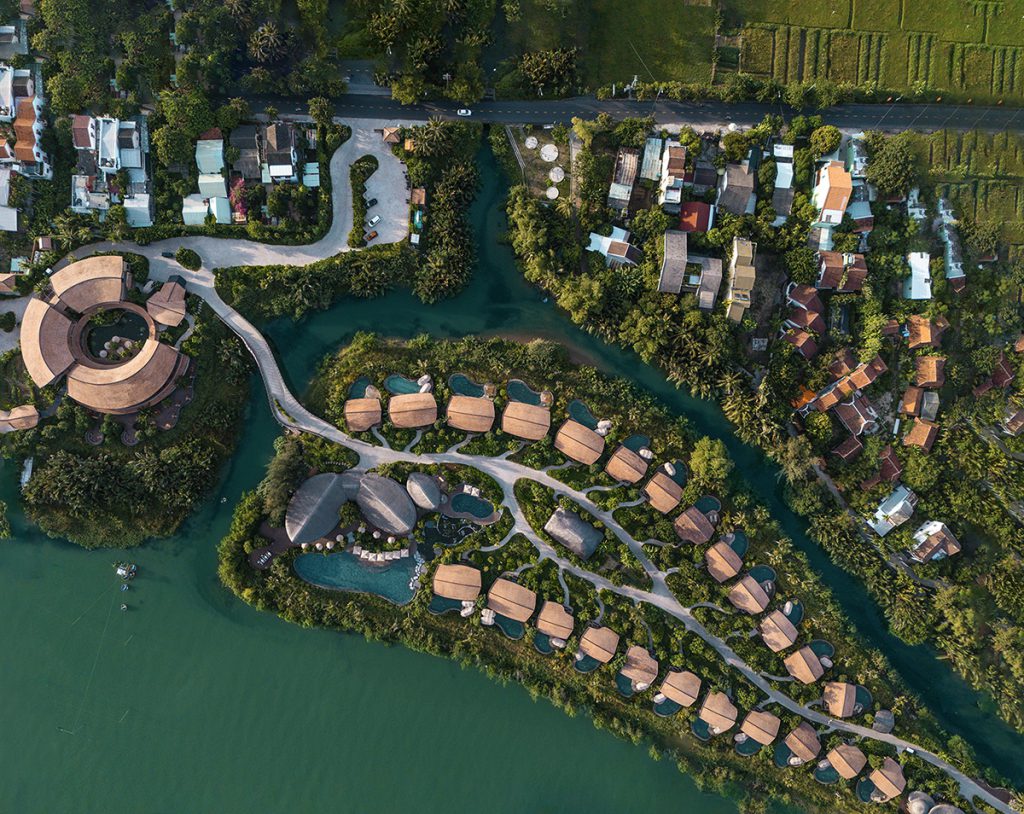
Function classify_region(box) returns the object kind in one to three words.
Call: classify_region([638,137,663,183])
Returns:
building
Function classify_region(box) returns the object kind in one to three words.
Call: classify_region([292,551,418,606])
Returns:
swimming pool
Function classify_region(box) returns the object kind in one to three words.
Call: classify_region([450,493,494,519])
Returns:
swimming pool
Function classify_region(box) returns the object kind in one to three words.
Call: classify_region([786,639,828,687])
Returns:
house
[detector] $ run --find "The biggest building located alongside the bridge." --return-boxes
[20,256,190,412]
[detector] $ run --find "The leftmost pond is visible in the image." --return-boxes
[86,308,146,364]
